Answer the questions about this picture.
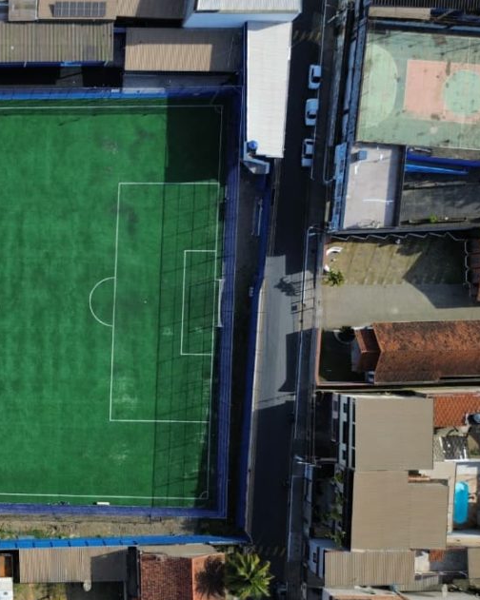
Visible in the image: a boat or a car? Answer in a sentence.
Looking from above, you can make out a car.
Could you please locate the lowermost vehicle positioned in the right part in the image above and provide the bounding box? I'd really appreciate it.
[300,137,317,166]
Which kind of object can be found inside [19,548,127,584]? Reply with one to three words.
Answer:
shed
